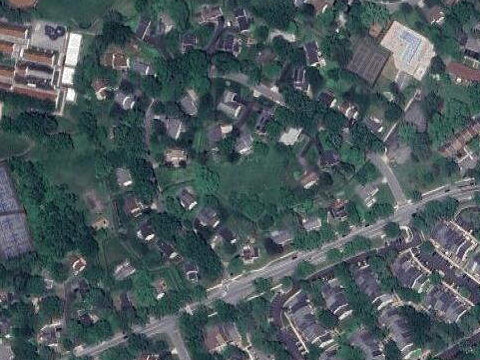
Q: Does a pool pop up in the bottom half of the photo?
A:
No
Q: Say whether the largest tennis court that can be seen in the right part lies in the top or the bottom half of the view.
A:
top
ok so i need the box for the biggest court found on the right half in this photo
[345,33,390,86]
